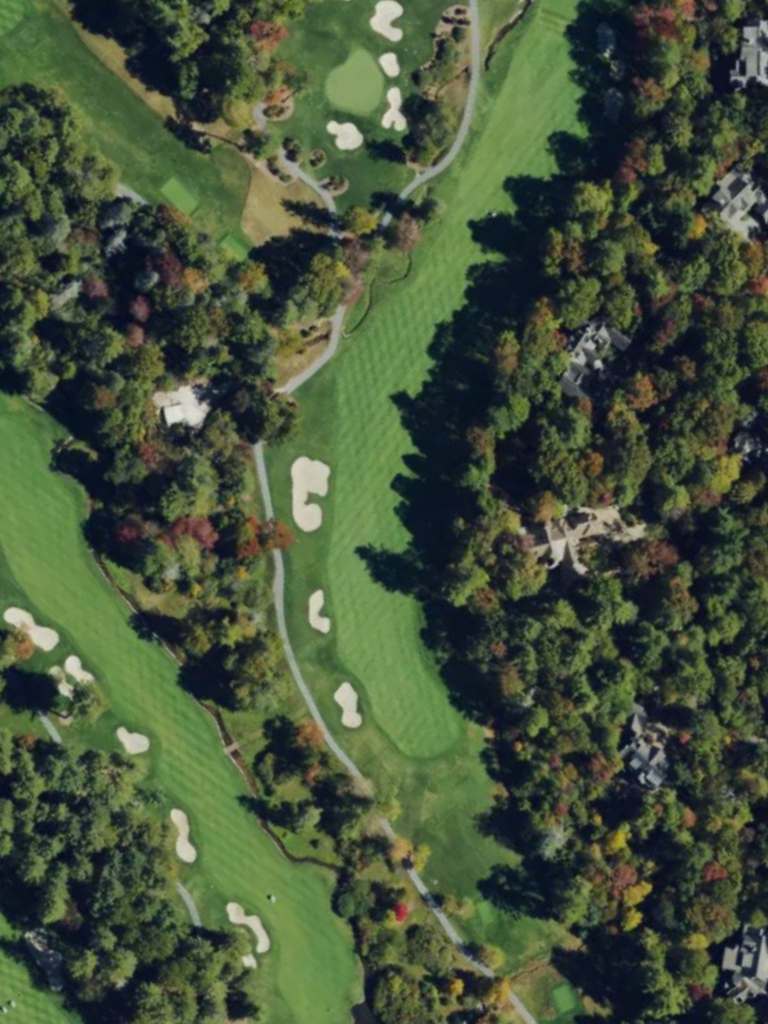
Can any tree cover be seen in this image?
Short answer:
Yes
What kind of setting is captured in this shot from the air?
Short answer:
golf course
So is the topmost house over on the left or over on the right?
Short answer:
right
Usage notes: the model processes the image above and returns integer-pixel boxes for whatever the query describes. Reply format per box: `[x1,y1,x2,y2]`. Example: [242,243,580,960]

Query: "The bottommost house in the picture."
[720,930,768,1006]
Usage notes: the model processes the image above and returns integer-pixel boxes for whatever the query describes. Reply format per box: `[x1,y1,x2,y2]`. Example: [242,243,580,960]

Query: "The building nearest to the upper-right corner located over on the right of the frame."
[736,17,768,85]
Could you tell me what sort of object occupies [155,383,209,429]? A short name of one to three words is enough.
house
